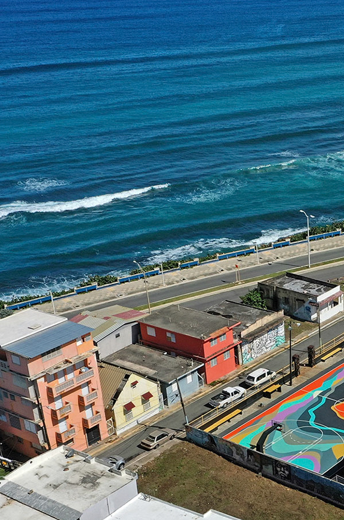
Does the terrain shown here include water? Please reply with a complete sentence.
Yes, water shows up in the scene.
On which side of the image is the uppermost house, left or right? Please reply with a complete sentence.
You can find the uppermost house on the right side of the picture.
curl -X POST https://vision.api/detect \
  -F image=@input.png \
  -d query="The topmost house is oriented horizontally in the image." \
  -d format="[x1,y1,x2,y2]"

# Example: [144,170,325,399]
[258,272,344,321]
